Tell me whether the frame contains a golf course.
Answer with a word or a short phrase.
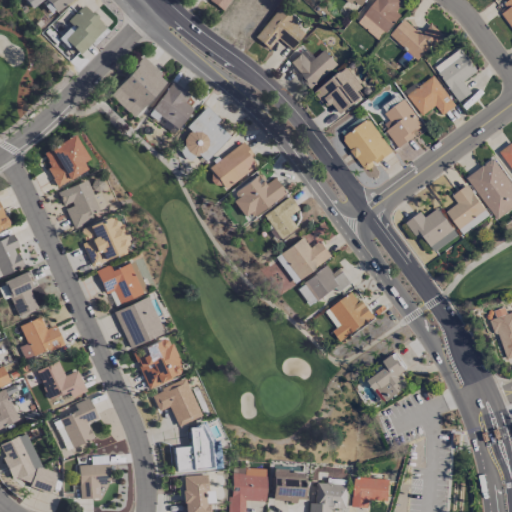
Yes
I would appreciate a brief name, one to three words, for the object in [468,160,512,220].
house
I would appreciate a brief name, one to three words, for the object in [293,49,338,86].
house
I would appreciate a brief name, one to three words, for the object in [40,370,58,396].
solar panel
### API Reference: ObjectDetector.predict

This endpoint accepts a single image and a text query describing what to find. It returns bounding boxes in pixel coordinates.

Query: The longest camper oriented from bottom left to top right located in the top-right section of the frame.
[464,91,484,108]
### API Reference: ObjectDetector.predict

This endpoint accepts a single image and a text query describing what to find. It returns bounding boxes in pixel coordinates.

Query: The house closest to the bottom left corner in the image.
[1,435,63,494]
